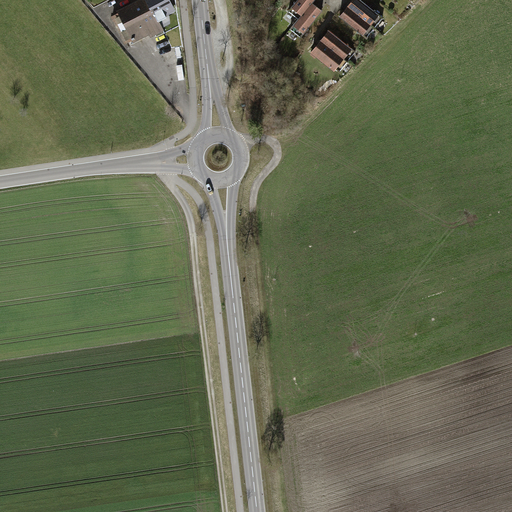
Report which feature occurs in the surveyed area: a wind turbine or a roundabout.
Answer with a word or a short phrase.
roundabout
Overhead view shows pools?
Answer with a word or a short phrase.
No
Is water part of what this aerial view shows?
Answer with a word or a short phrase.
No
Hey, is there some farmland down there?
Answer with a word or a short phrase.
Yes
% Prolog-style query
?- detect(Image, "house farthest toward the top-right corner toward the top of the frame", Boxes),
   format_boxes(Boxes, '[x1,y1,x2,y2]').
[340,0,382,40]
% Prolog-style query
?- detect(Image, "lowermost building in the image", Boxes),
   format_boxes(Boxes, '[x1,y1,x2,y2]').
[312,32,355,74]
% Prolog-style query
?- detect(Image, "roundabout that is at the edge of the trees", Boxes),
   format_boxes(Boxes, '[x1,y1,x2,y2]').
[188,128,249,188]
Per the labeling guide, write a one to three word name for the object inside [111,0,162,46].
house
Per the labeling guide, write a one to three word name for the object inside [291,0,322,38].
house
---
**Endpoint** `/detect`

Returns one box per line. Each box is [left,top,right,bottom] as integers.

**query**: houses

[291,0,322,38]
[340,0,382,40]
[111,0,162,46]
[312,32,355,74]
